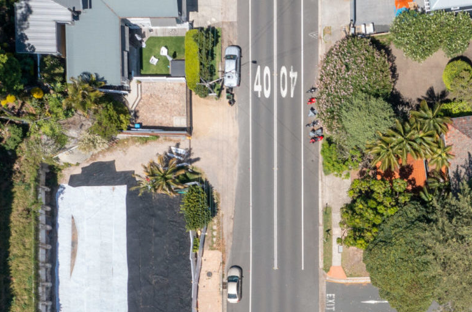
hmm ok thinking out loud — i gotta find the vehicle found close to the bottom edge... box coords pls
[225,267,243,303]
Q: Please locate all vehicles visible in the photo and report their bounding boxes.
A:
[222,45,241,87]
[304,107,323,118]
[225,267,243,303]
[309,127,325,137]
[309,135,324,143]
[304,120,320,127]
[303,95,319,104]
